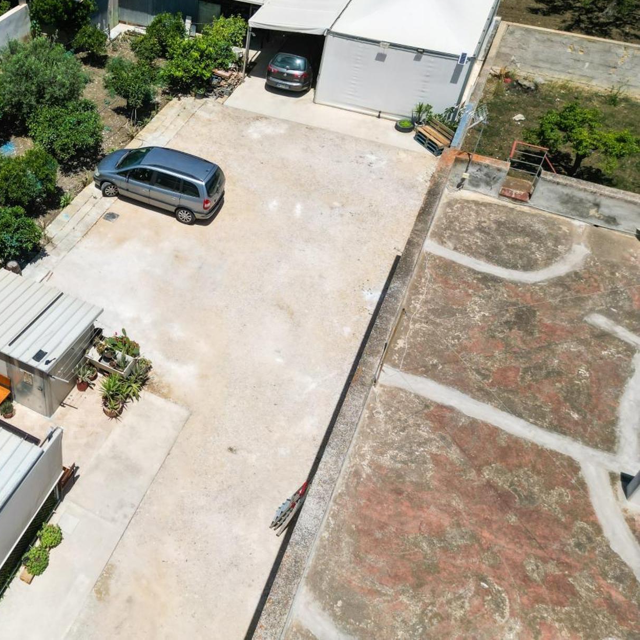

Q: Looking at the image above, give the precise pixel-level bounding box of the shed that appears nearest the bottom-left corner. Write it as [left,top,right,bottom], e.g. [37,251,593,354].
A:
[0,268,104,427]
